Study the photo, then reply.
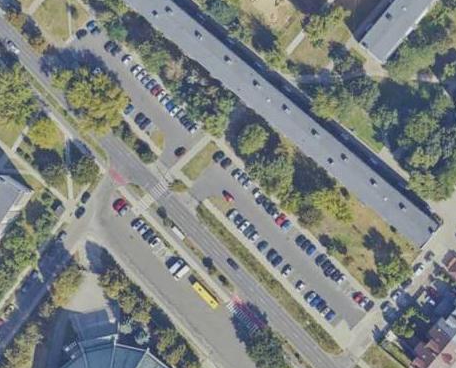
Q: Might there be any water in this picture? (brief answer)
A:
No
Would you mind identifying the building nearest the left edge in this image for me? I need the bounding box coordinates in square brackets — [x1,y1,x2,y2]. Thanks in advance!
[0,173,32,229]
